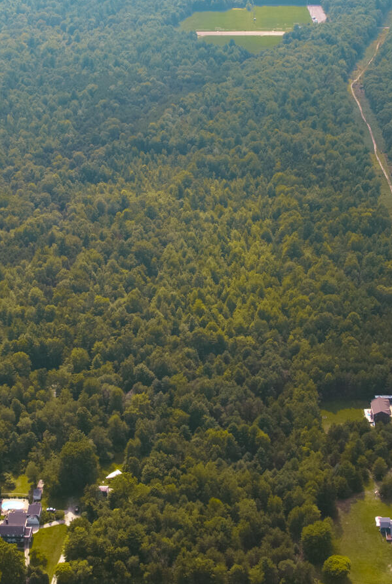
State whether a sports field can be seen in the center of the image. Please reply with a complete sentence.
No, in the center of the image there is no sports field.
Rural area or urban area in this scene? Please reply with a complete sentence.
The area shown here is rural.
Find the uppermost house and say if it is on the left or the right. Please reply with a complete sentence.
It is on the right.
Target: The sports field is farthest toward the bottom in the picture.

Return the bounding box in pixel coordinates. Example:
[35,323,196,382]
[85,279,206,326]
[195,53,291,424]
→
[194,31,284,55]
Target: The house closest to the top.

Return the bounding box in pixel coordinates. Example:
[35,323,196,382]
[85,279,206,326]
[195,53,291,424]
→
[360,398,392,424]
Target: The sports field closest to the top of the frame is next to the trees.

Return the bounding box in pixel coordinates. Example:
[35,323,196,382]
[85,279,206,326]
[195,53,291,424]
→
[181,5,328,32]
